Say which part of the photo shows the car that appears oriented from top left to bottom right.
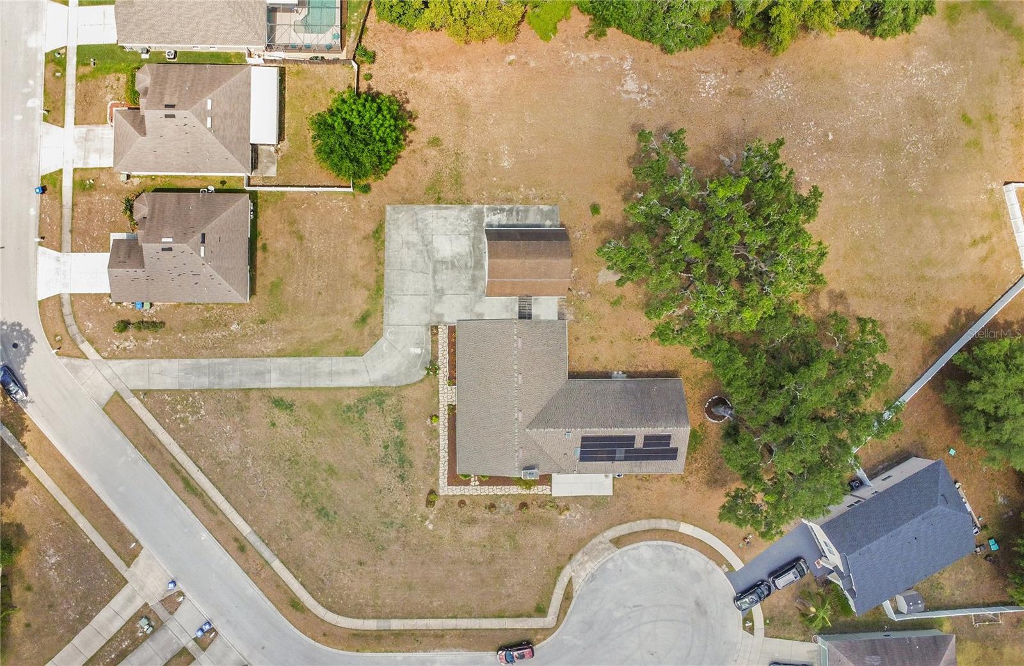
left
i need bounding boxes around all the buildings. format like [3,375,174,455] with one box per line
[817,631,958,666]
[114,0,267,53]
[108,63,252,176]
[456,318,690,480]
[807,458,976,617]
[108,192,251,302]
[484,227,571,297]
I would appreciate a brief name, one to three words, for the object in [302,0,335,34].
swimming pool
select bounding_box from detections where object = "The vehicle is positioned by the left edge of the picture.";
[0,363,30,405]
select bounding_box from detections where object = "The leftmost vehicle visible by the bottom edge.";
[497,640,535,665]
